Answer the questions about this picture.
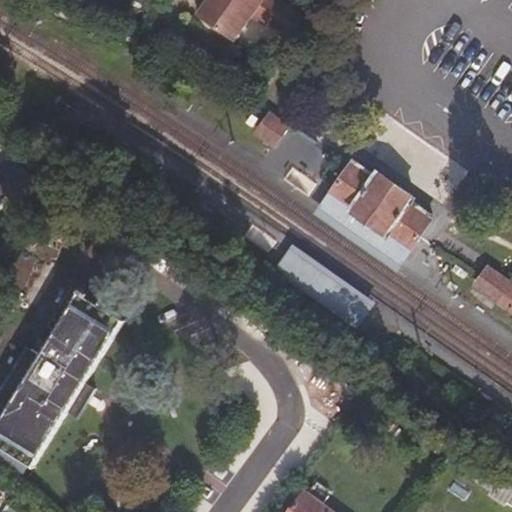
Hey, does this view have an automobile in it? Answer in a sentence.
Yes, the frame does contain an automobile.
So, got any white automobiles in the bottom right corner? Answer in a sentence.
No, I see no white automobile in the bottom right corner.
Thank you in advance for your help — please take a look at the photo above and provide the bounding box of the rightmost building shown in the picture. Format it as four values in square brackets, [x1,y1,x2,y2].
[472,264,512,318]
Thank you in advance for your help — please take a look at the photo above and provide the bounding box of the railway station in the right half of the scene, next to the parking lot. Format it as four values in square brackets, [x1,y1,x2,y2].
[314,160,432,270]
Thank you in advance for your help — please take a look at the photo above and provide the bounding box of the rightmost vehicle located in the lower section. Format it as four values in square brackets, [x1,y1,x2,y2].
[158,306,178,323]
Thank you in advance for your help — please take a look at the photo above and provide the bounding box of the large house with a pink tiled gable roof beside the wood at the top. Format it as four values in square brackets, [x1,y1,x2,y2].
[194,0,276,44]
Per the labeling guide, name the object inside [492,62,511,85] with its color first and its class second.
white car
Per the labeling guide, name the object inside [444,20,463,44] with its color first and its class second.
gray car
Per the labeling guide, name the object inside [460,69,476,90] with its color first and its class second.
white car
